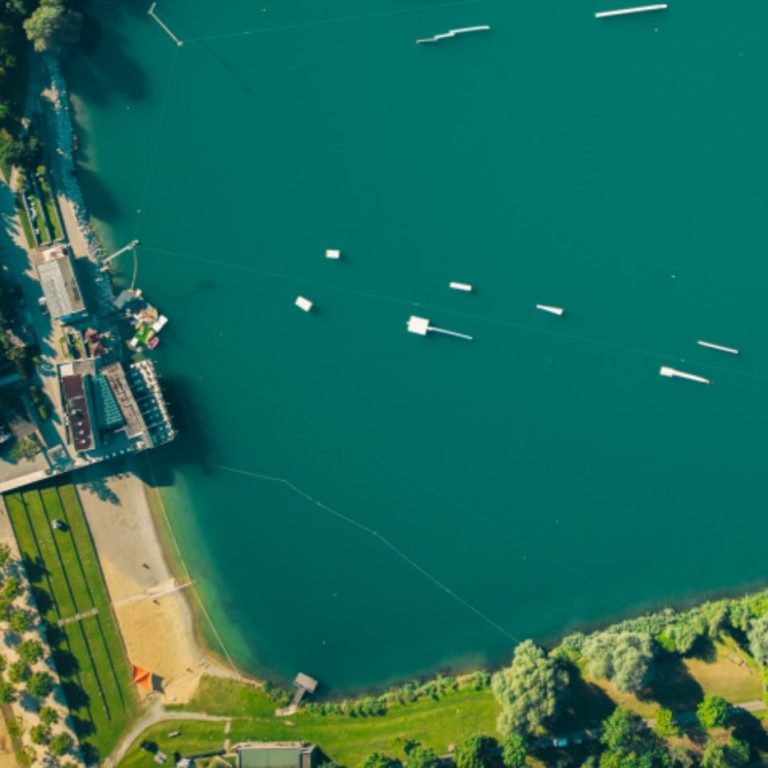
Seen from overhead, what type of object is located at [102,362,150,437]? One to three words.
building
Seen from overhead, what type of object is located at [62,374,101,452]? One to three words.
building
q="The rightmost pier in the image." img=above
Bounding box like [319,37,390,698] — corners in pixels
[290,672,317,706]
